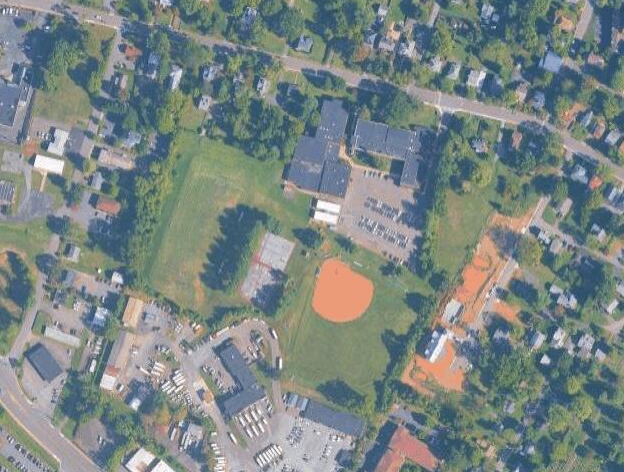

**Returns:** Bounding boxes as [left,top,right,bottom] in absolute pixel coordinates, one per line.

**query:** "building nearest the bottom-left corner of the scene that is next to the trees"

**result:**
[23,343,62,384]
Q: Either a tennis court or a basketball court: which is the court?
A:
tennis court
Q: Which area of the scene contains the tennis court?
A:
center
